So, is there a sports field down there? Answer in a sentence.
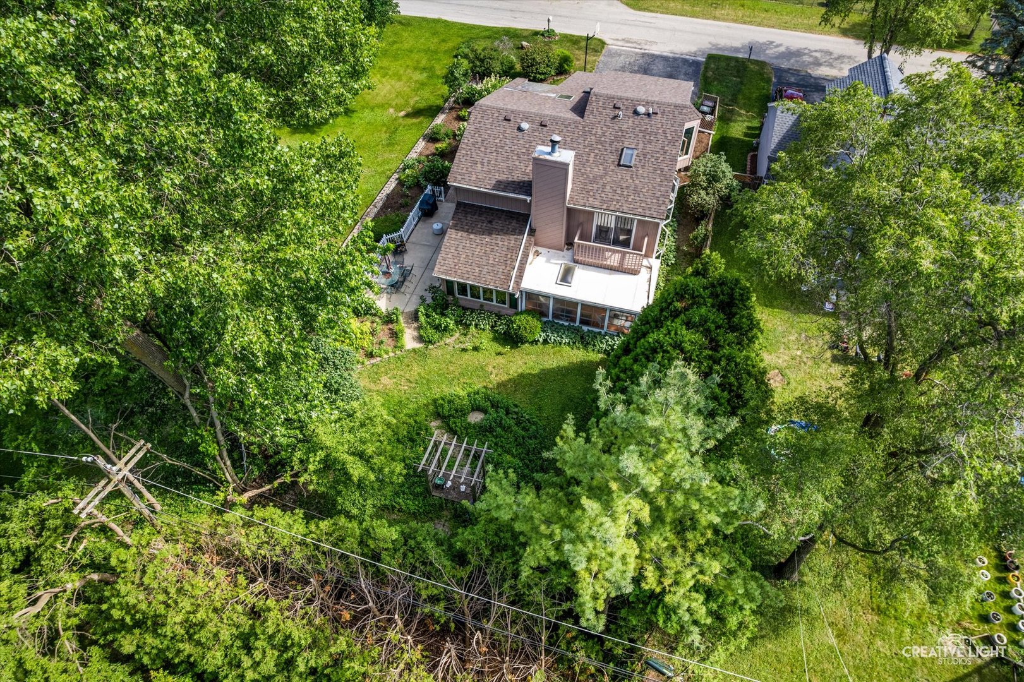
No, I can see no sports field in this picture.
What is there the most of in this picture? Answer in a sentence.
Most of the picture is covered by trees.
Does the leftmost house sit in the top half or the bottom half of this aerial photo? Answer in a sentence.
You can find the leftmost house in the top half.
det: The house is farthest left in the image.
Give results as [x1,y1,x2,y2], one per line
[431,69,702,338]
